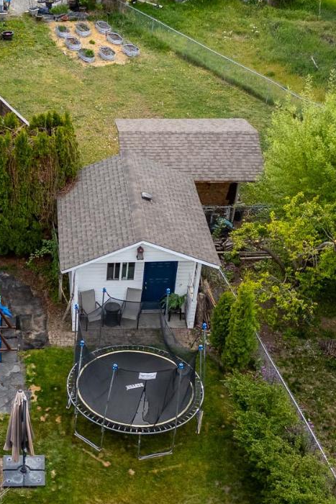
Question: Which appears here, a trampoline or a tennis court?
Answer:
trampoline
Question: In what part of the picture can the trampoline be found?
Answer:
bottom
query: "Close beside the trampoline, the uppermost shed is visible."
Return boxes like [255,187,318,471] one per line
[110,107,262,228]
